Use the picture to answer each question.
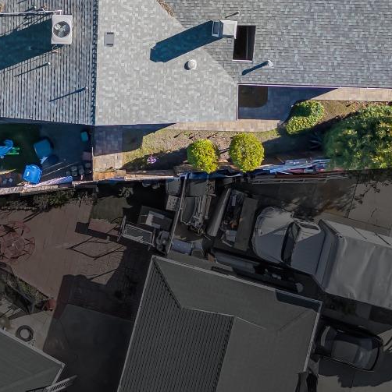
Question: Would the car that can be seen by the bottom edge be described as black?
Yes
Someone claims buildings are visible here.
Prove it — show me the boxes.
[0,314,67,392]
[117,250,325,392]
[0,0,392,125]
